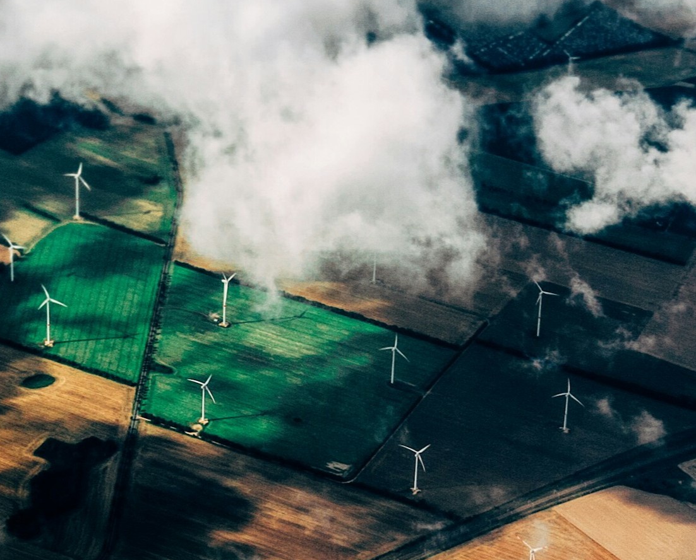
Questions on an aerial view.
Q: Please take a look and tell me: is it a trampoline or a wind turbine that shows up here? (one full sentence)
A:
This aerial view contains a wind turbine.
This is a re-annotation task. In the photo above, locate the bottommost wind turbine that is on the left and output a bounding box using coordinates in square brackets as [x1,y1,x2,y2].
[186,376,211,417]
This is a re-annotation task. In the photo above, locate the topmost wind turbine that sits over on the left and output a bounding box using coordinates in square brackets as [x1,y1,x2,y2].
[60,163,84,218]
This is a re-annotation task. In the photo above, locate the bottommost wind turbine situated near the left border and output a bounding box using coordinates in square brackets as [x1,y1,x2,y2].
[34,283,62,343]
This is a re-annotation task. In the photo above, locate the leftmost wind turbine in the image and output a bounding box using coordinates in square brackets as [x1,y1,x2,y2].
[0,234,26,280]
